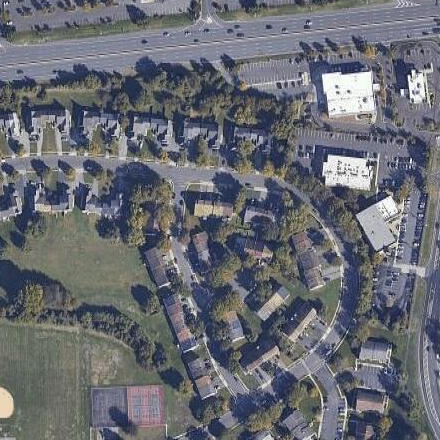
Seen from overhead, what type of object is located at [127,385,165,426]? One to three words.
tennis court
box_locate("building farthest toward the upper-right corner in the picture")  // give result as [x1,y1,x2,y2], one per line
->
[400,69,431,108]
